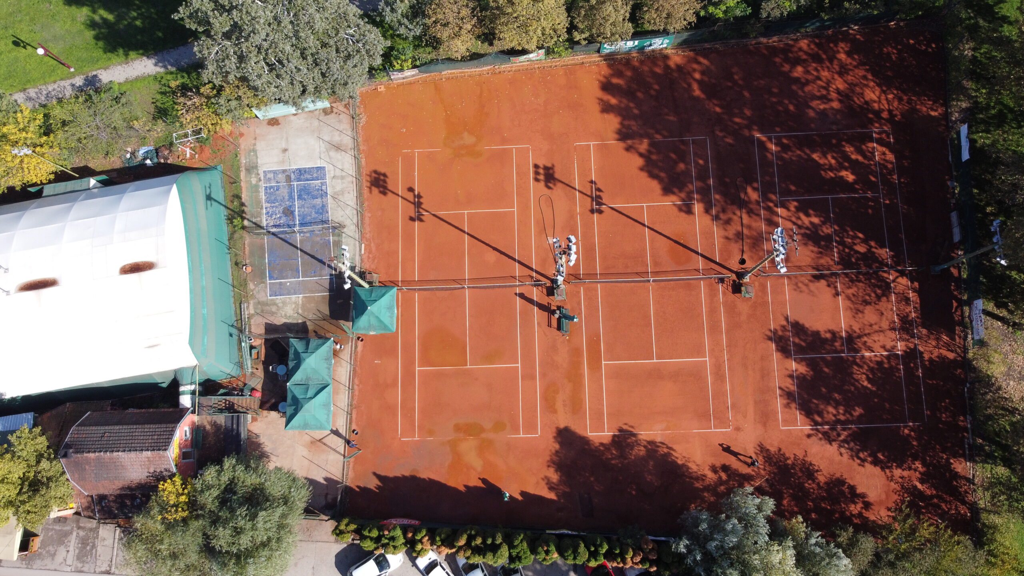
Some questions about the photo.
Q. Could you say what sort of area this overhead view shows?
sports ground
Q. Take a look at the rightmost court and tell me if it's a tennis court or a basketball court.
tennis court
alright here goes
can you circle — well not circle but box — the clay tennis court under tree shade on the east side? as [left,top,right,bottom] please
[748,123,935,435]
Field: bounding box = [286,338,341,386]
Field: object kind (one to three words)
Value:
gazebo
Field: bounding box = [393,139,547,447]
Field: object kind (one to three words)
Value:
tennis court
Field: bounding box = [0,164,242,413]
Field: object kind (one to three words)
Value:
building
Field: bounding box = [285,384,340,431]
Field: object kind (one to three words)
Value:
gazebo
